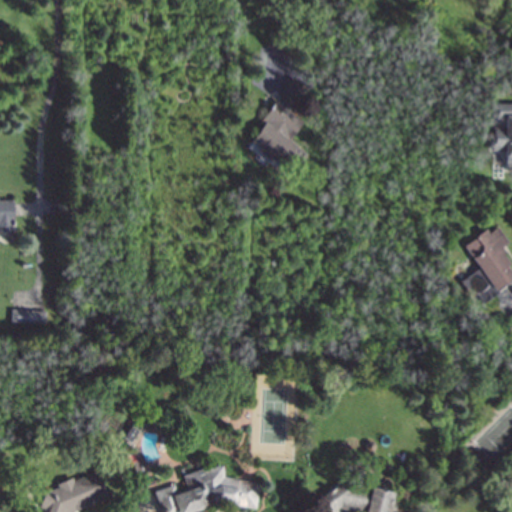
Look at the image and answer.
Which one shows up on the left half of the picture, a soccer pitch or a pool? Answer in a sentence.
You can see a pool on the left half of the picture.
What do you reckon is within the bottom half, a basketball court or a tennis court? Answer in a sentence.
It is a tennis court that can be seen within the bottom half.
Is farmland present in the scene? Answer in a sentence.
No, no farmland is visible.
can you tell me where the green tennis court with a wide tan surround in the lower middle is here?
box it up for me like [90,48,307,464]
[252,374,295,462]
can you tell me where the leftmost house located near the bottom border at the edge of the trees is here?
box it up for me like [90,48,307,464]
[44,474,106,512]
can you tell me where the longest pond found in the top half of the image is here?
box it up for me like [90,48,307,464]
[88,59,134,152]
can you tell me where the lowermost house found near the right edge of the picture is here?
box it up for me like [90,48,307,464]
[466,227,512,298]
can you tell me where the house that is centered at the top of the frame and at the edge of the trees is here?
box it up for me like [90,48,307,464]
[252,102,312,172]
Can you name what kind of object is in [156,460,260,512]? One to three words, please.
house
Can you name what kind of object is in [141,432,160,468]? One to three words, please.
swimming pool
